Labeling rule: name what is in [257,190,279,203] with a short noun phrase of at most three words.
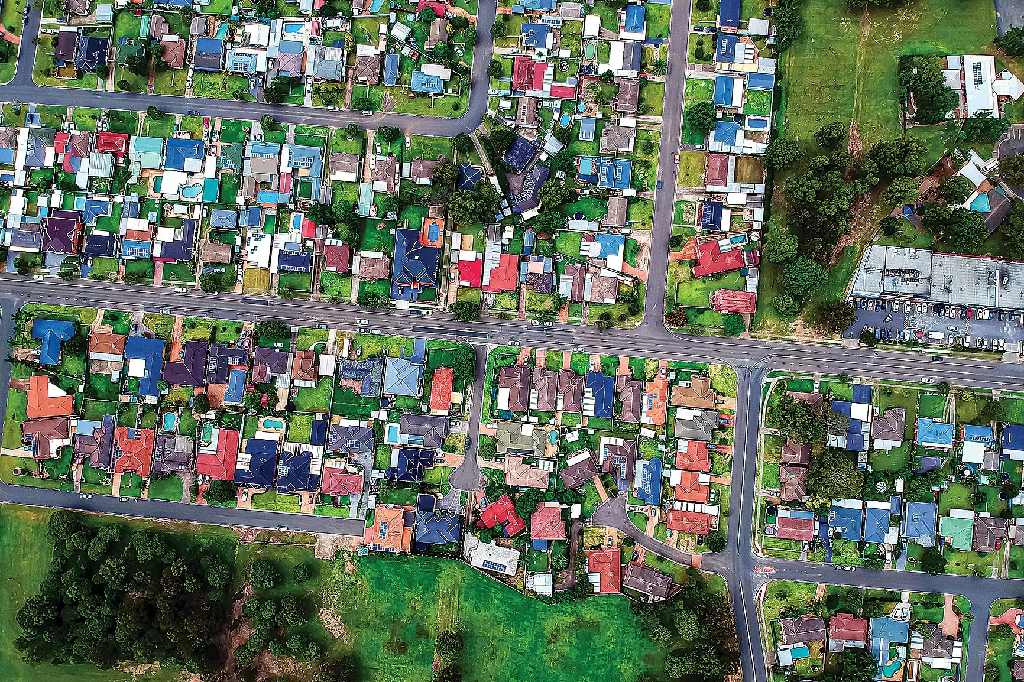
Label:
swimming pool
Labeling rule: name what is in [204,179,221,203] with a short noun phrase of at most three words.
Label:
building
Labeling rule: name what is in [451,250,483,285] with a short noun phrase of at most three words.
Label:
house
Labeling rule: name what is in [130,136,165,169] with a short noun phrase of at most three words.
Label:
house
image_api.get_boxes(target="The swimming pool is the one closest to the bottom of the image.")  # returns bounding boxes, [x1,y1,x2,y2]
[884,659,901,679]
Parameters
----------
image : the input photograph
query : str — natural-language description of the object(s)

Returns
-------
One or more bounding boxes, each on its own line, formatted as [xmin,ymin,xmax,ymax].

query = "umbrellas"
[877,481,886,492]
[750,231,760,242]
